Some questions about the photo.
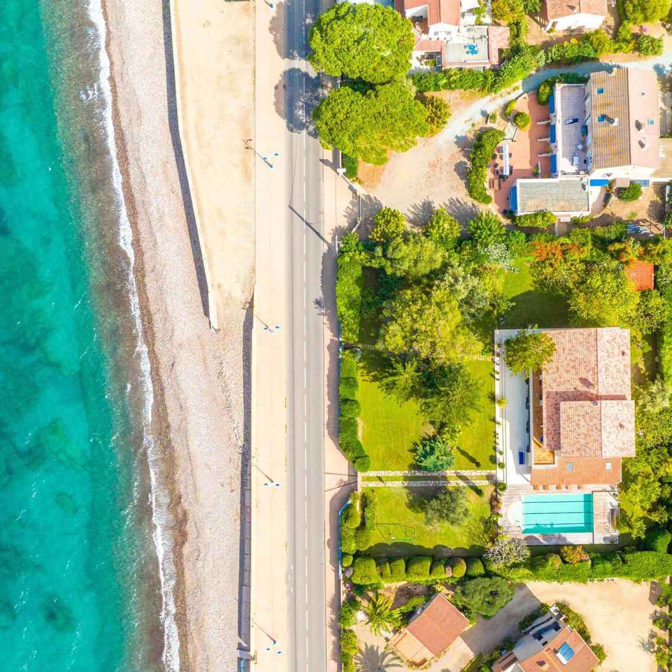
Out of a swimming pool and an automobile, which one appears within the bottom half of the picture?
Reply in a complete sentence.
The one visible within the bottom half of the picture is a swimming pool.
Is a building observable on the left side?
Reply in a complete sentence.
No, there is no building on the left side.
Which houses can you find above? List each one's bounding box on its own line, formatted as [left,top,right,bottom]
[489,601,599,672]
[542,0,607,35]
[389,592,469,669]
[536,66,660,187]
[526,328,635,485]
[404,0,509,72]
